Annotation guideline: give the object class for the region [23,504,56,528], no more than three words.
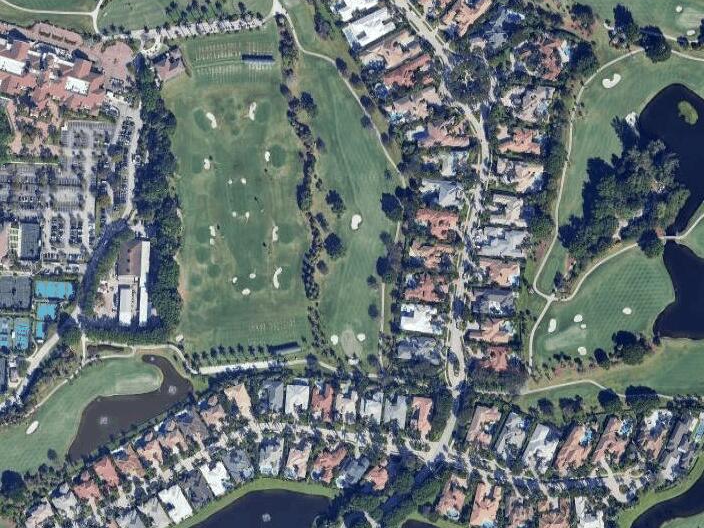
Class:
house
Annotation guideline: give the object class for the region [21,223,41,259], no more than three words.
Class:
tennis court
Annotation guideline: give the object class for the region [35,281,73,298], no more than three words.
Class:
sports court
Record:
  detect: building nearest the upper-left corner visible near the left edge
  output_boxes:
[0,37,108,109]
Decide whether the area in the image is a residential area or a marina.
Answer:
residential area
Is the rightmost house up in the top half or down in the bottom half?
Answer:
bottom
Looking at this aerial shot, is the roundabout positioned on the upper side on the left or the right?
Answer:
right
